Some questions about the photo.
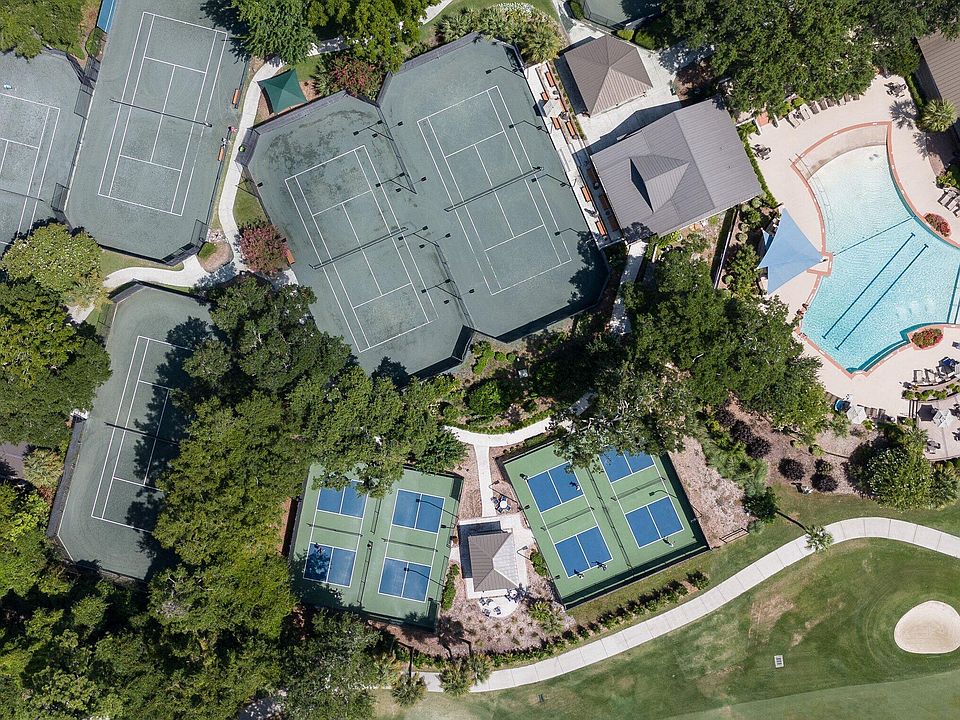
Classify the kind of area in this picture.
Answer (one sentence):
This image shows a sports ground.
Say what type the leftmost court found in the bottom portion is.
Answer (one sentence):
Looking closely, the leftmost court found in the bottom portion is a tennis court.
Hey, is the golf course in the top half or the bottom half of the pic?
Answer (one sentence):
Seen from above, the golf course lies in the bottom half of the view.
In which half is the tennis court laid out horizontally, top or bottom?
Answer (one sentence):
You can find the tennis court laid out horizontally in the top half.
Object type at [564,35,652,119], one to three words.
building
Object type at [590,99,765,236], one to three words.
building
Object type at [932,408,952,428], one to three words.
umbrella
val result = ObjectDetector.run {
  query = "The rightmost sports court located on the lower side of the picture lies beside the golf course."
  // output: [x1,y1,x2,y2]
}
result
[579,408,709,579]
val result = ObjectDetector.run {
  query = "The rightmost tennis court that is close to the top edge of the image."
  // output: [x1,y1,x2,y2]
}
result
[585,0,668,28]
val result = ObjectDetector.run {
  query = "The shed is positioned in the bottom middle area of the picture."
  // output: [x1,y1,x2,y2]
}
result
[469,530,519,592]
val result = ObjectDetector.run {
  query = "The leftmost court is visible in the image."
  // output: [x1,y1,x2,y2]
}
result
[0,50,83,285]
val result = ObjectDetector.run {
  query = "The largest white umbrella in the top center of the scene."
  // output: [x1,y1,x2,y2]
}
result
[539,97,562,120]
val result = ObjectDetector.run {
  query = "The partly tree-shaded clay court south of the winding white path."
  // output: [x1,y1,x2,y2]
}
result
[60,286,240,580]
